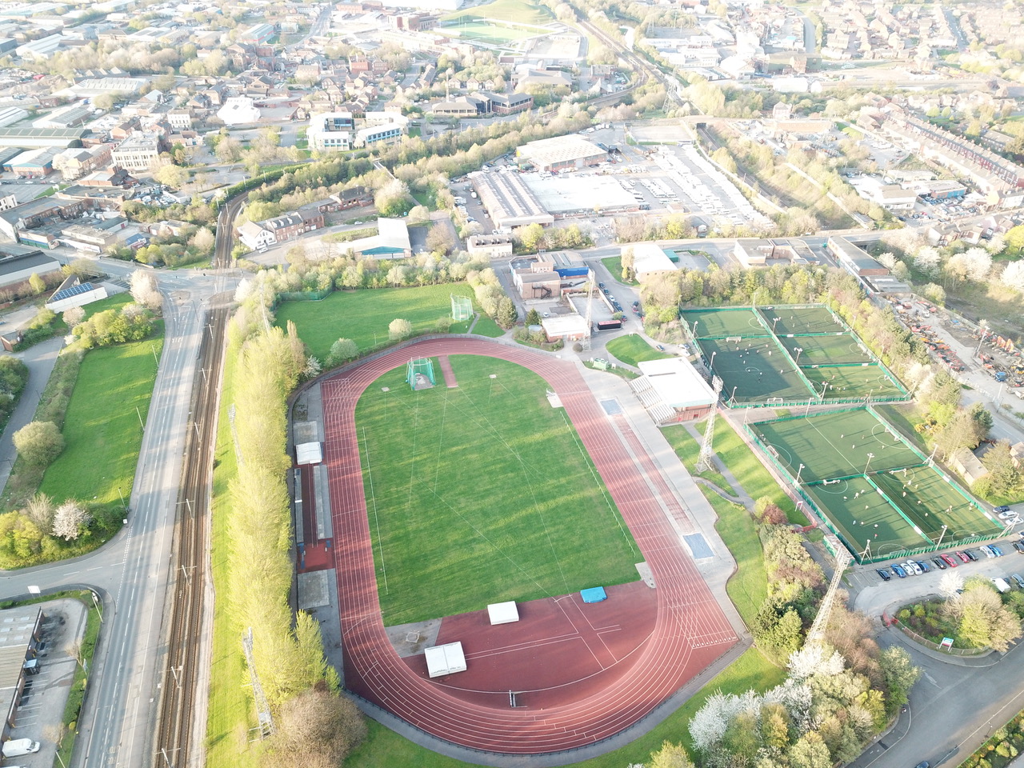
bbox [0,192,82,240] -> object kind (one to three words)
building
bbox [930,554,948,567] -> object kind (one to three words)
vehicle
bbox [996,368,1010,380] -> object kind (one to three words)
vehicle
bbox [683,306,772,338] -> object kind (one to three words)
soccer field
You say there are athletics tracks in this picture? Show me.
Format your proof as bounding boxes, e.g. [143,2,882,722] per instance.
[319,336,743,753]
